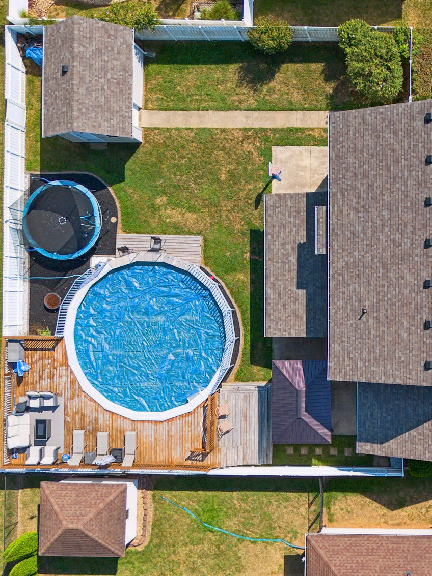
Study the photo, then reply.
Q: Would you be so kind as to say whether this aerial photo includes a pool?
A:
Yes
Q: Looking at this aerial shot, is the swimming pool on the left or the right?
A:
left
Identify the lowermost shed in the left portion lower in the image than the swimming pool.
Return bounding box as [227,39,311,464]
[39,478,137,558]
